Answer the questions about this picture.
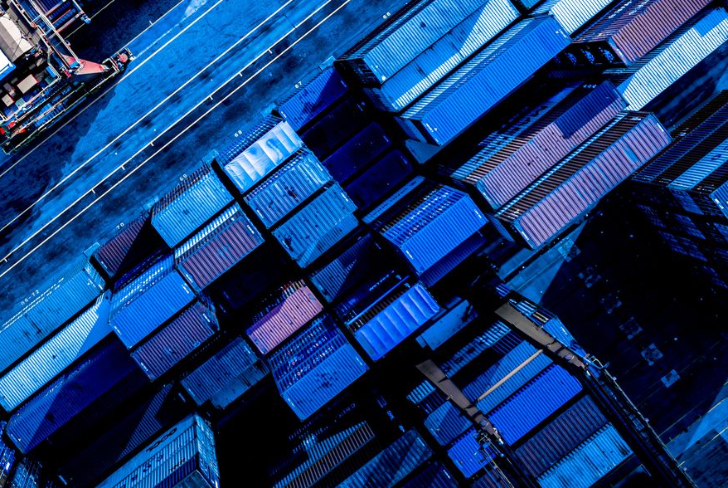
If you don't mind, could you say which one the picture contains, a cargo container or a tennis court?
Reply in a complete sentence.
The one in the frame is a cargo container.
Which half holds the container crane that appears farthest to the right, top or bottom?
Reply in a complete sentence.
The container crane that appears farthest to the right is in the bottom half of the image.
